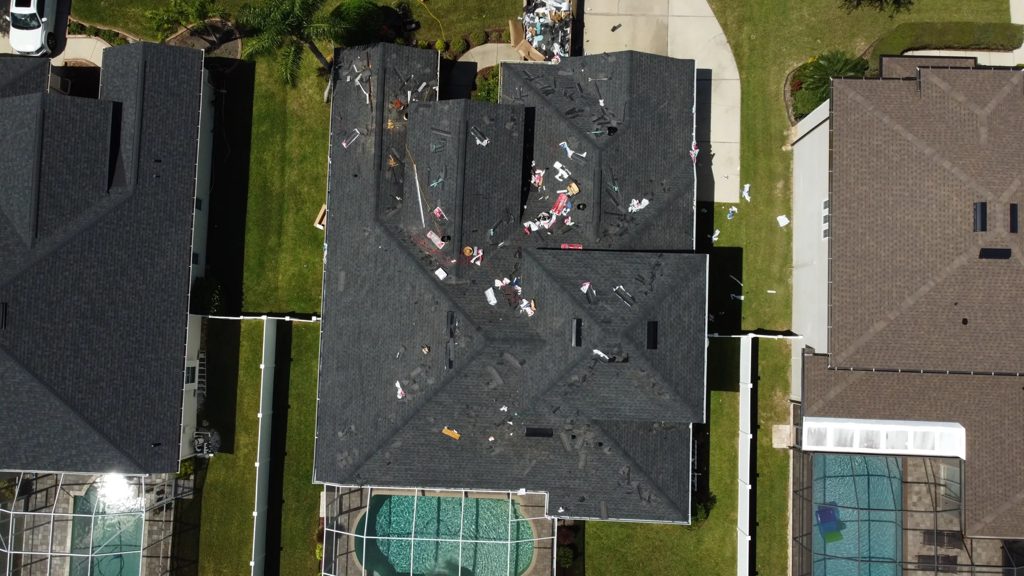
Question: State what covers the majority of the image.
buildings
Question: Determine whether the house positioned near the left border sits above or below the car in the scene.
below it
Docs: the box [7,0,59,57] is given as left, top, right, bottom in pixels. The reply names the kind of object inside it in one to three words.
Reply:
car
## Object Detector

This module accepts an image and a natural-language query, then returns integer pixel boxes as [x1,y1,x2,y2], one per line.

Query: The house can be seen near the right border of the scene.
[792,55,1024,538]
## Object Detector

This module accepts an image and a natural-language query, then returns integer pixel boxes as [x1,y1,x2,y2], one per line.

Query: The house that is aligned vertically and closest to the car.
[0,42,217,478]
